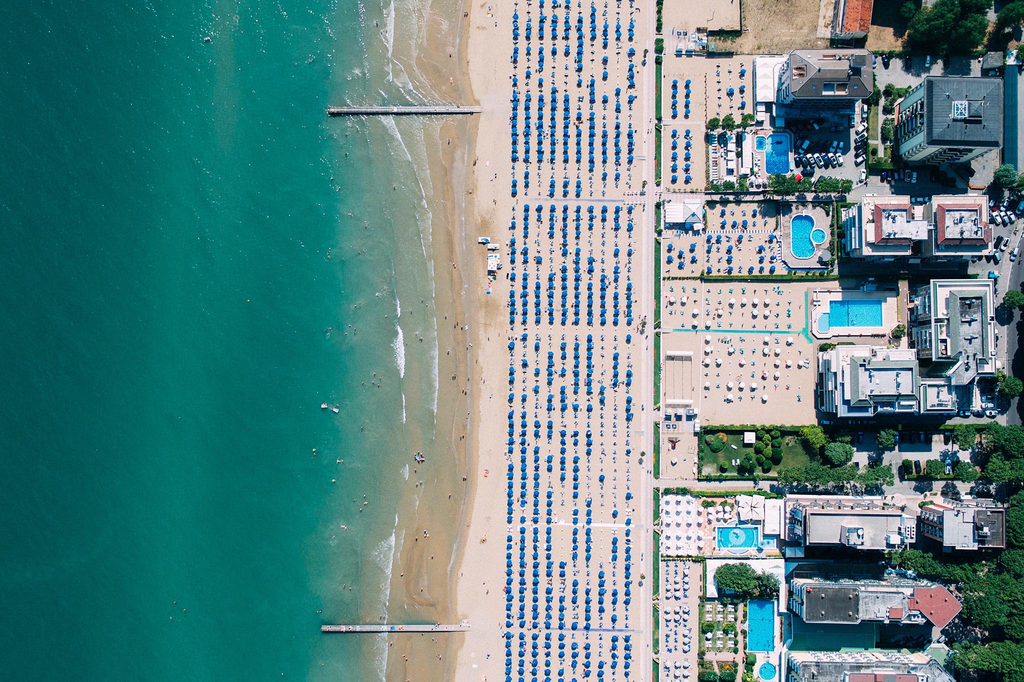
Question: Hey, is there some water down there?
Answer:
Yes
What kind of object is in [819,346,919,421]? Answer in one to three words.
building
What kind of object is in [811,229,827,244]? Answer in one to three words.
swimming pool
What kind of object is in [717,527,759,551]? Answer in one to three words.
swimming pool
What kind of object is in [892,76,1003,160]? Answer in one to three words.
building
